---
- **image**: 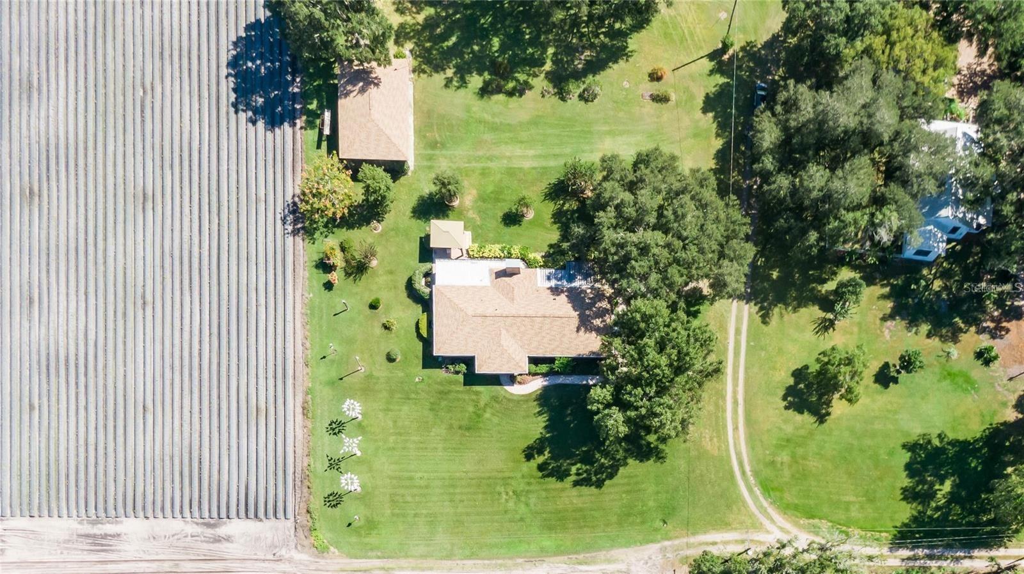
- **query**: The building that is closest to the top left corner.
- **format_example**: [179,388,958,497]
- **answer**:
[339,58,410,171]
